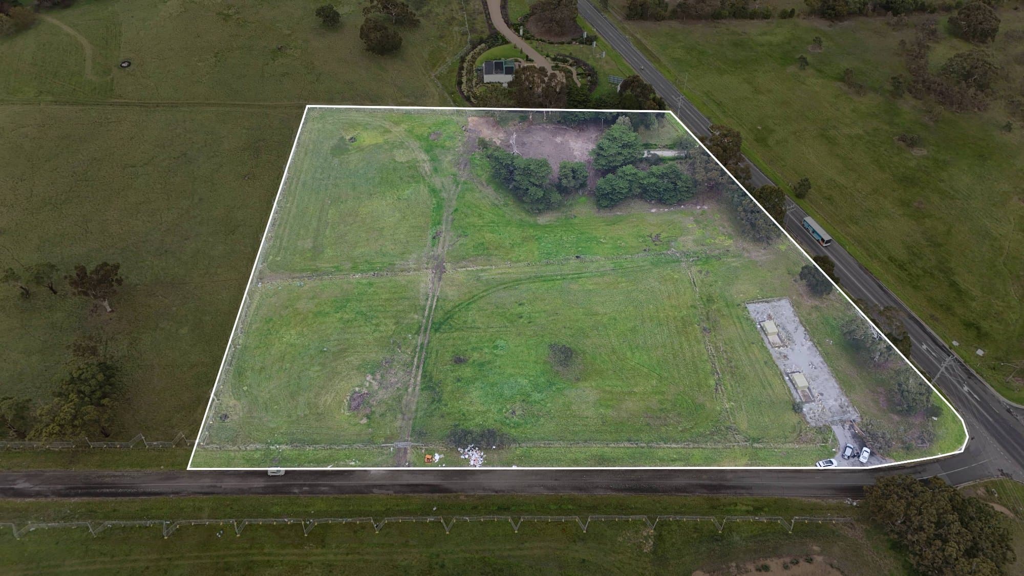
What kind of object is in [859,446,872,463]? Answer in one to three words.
vehicle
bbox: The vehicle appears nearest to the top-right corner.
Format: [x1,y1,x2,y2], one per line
[801,216,834,247]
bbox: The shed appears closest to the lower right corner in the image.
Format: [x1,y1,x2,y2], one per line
[784,368,816,400]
